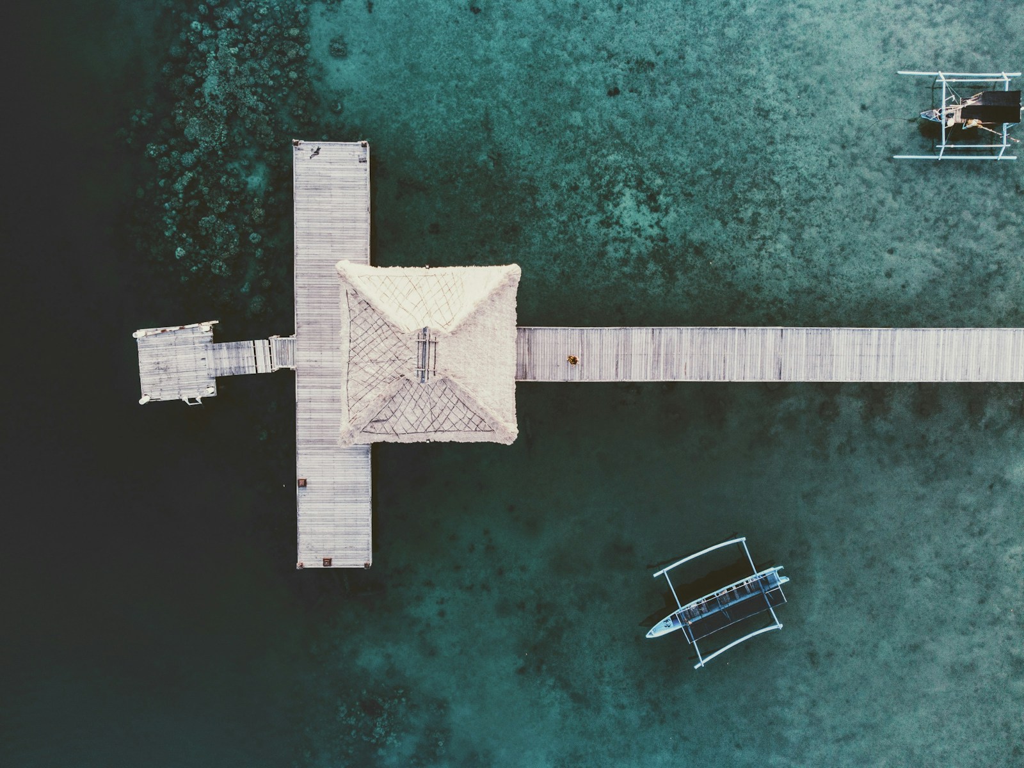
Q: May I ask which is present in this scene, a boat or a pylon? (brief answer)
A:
boat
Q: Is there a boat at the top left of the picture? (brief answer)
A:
No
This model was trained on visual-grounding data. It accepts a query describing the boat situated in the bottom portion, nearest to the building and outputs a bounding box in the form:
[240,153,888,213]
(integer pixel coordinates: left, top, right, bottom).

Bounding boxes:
[643,537,789,669]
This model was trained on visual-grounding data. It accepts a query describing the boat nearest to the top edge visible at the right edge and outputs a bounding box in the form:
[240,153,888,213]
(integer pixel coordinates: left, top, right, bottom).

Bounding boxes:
[893,71,1024,160]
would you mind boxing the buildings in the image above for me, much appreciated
[334,258,523,449]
